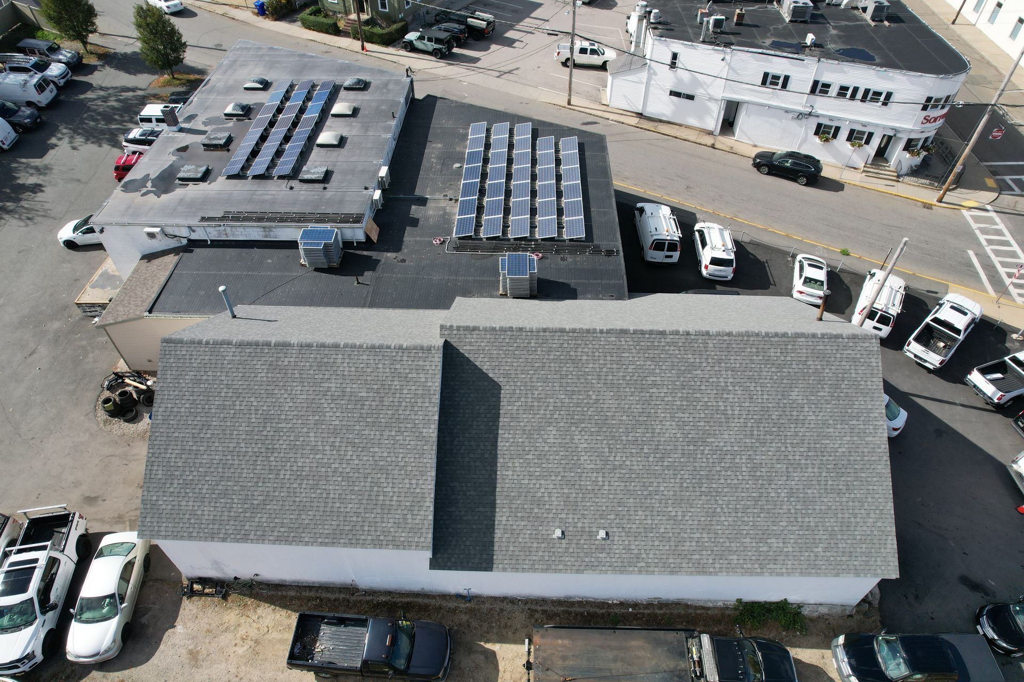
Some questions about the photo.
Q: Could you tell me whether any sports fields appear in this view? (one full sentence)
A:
No, there's no sports field here.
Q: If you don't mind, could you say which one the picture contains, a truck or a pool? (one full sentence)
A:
Of the two, only a truck appears.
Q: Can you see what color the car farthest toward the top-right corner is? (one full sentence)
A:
The car farthest toward the top-right corner looks black in the image.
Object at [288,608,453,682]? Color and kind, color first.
black truck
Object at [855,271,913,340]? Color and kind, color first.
white van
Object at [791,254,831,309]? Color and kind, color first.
white car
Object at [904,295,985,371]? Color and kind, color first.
white truck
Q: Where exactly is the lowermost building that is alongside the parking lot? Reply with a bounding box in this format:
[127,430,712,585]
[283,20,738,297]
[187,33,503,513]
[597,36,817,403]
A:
[137,296,898,615]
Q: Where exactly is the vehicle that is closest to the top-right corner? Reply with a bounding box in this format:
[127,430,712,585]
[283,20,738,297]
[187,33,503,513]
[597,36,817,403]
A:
[751,150,824,186]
